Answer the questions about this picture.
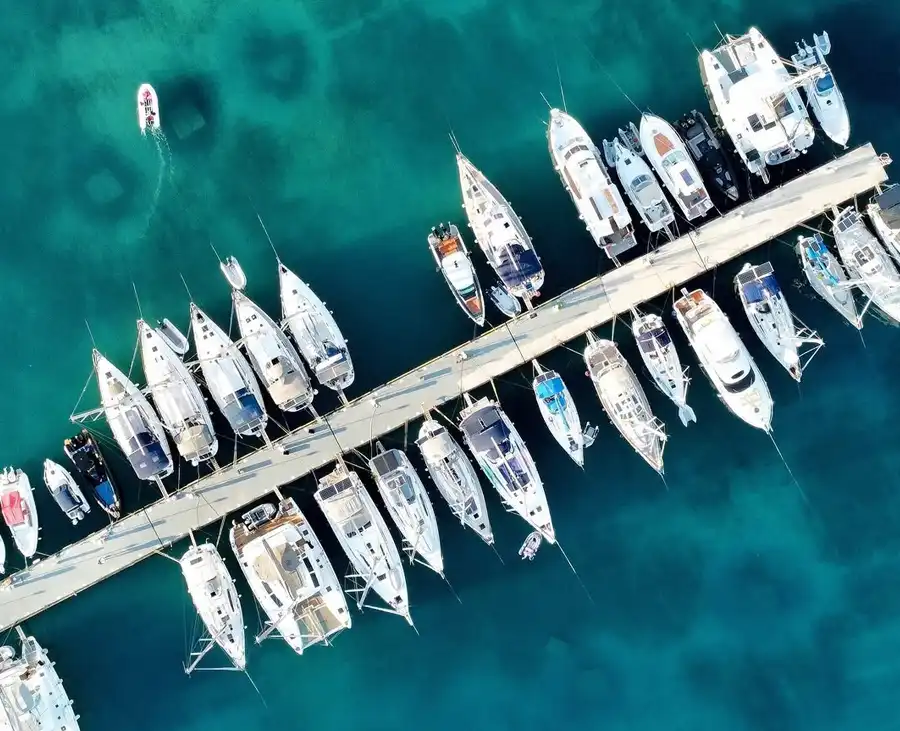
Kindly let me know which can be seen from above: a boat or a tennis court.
boat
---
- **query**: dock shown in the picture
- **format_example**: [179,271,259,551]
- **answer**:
[0,141,889,633]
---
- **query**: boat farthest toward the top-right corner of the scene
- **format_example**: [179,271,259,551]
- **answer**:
[811,28,832,55]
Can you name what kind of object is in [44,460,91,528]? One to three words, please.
boat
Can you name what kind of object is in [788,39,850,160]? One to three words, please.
boat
